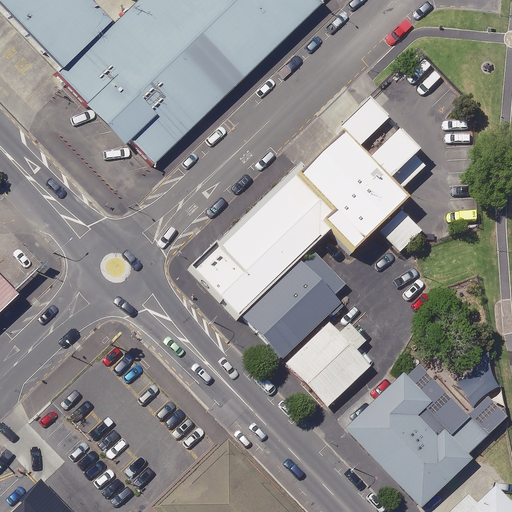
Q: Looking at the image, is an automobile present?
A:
Yes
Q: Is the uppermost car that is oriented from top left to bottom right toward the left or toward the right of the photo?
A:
left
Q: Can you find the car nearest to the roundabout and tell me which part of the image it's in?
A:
left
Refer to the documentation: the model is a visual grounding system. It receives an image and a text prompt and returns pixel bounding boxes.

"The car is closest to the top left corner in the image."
[70,111,96,126]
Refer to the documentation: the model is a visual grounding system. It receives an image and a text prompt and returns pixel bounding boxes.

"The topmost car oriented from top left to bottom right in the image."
[46,176,68,198]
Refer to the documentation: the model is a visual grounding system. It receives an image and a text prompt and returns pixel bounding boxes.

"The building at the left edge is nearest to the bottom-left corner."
[8,480,72,512]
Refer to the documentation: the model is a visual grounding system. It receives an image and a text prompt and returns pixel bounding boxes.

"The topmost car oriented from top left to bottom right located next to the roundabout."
[122,249,144,272]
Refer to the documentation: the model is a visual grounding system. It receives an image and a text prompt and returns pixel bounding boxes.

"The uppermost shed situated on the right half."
[338,97,388,144]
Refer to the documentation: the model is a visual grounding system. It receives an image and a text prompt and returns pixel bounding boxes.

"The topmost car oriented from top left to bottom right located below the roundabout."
[114,297,138,317]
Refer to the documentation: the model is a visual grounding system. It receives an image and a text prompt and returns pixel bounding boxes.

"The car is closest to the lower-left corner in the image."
[6,487,26,506]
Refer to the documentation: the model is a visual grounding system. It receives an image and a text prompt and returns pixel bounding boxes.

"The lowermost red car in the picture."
[38,410,58,428]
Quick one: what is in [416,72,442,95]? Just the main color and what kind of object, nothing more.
white vehicle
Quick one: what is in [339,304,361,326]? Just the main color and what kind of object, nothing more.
white car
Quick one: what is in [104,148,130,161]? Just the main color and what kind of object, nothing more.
white vehicle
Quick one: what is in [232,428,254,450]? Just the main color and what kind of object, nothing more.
white car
